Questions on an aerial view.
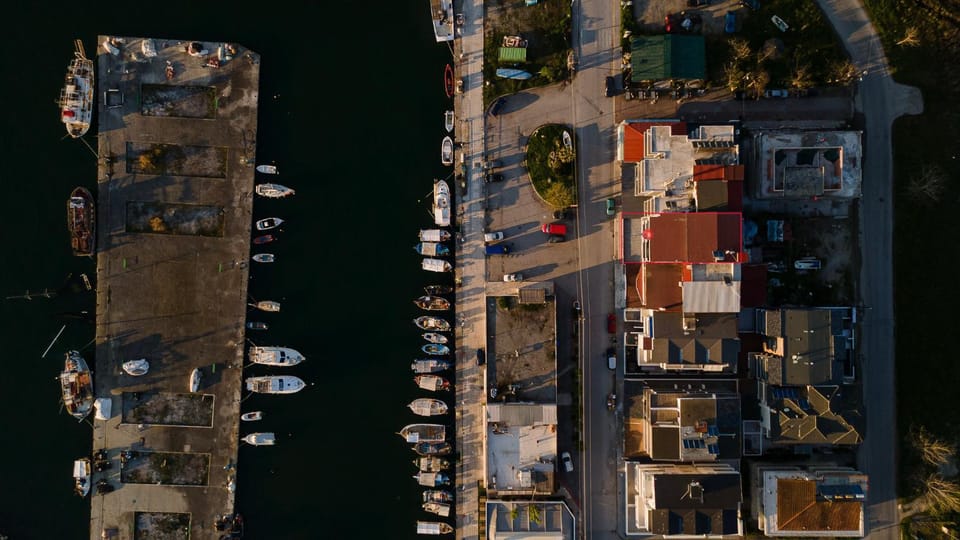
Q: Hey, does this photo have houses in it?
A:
Yes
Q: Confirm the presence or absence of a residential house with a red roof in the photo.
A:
Yes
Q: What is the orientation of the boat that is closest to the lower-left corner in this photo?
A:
from top to bottom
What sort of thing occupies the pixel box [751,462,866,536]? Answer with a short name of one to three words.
house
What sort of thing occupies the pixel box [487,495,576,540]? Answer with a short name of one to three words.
building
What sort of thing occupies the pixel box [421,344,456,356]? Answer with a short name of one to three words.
boat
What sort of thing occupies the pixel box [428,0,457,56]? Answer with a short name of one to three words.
ship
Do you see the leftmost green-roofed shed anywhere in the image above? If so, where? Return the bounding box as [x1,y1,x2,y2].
[499,48,526,64]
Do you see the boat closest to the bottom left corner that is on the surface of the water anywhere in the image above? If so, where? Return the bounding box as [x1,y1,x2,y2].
[70,458,90,501]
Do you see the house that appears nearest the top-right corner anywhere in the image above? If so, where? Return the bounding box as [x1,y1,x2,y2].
[753,129,866,200]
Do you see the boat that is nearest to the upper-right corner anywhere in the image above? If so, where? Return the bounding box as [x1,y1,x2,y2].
[772,13,792,33]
